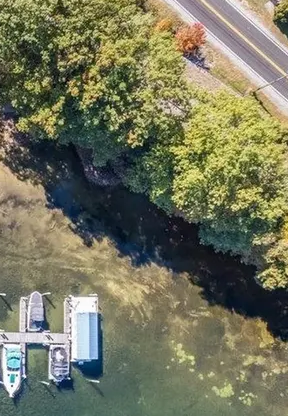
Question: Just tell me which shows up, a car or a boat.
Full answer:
This aerial view contains a boat.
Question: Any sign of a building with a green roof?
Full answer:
No, I find no building with a green roof anywhere in the image.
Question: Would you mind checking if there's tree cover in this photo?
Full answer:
Yes, some tree cover is visible.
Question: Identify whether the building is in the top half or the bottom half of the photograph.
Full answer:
You can find the building in the bottom half.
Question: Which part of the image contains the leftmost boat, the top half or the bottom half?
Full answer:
The bottom half of the photo is where the leftmost boat is.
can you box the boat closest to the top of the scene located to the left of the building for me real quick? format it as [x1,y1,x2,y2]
[26,292,44,331]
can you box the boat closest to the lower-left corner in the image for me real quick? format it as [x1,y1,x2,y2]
[1,344,22,399]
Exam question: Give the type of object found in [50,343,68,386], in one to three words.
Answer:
boat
